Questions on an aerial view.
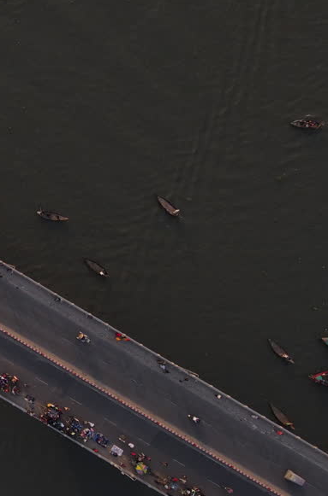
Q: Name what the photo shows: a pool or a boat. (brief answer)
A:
boat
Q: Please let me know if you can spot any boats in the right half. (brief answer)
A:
Yes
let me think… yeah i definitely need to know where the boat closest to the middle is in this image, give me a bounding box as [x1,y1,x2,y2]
[157,196,182,217]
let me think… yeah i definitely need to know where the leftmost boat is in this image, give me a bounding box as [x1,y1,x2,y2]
[36,202,71,221]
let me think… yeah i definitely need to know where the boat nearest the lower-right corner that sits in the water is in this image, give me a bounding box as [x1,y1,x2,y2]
[270,403,298,431]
